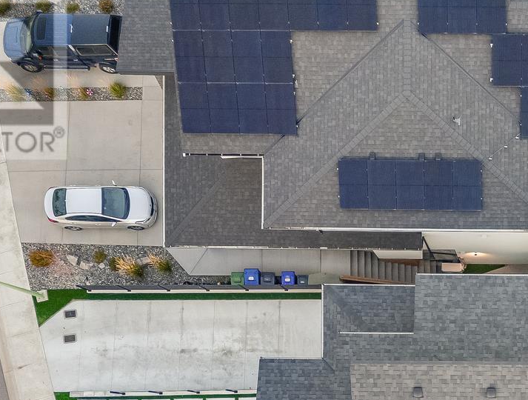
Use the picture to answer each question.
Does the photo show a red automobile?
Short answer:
No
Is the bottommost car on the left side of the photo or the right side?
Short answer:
left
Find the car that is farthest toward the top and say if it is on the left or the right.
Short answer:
left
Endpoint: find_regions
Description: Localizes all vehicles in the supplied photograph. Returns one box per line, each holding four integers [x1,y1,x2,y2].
[45,173,159,231]
[3,9,122,76]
